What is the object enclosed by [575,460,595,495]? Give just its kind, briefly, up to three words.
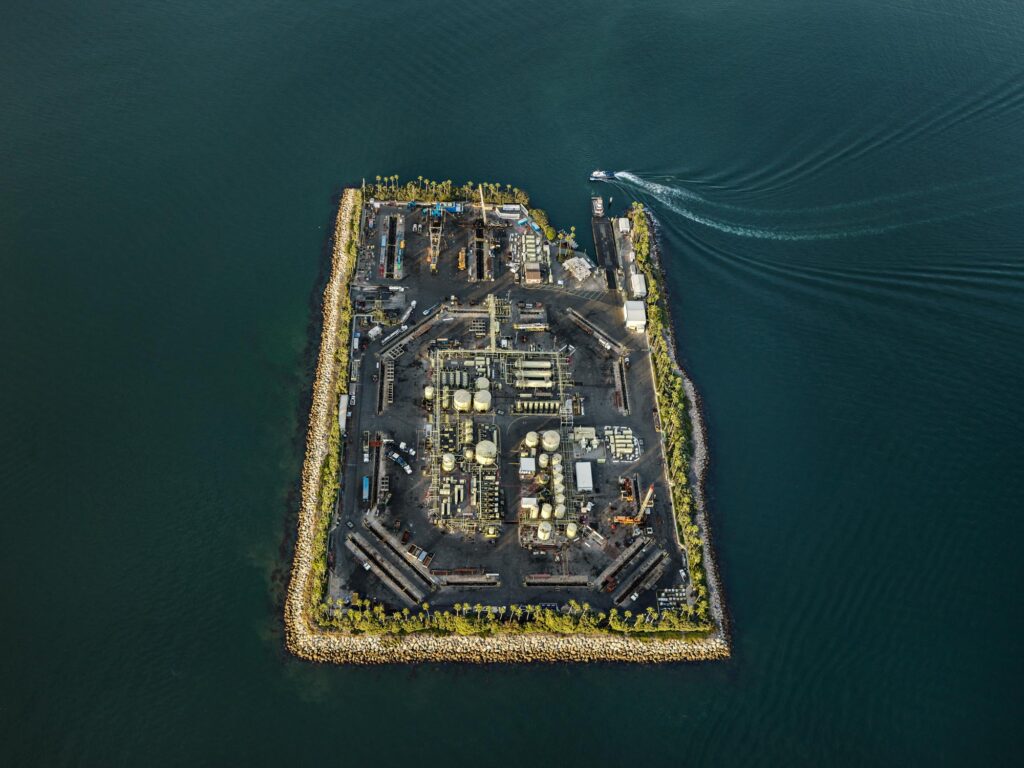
shed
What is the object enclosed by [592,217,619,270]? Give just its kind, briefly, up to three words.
ship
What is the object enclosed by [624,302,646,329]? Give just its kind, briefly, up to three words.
building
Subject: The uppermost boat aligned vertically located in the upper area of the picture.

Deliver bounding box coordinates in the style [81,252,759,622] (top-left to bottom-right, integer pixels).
[592,195,605,218]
